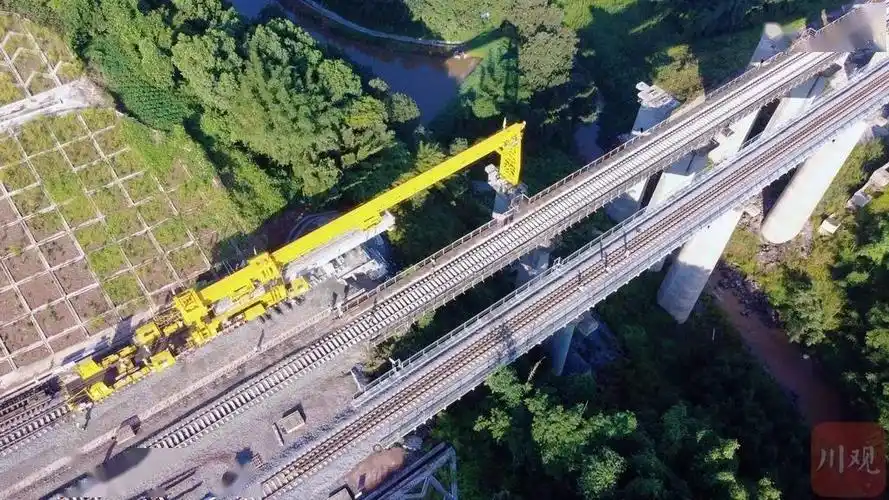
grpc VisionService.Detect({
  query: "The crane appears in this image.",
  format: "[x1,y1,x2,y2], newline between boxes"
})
[43,114,532,422]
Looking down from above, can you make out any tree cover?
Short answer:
Yes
